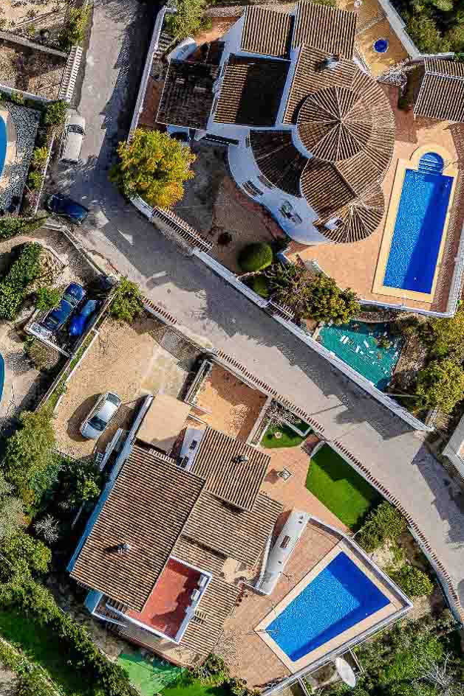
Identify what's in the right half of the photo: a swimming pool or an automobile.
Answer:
swimming pool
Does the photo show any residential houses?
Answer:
Yes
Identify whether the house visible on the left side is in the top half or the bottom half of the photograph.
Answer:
bottom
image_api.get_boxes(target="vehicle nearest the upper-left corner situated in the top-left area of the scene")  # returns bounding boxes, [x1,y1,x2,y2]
[58,112,88,166]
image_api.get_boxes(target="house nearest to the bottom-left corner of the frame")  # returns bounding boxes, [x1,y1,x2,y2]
[65,392,284,668]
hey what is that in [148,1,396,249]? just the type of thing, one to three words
house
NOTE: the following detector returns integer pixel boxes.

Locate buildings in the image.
[397,56,464,131]
[65,392,284,668]
[148,1,396,249]
[431,420,464,487]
